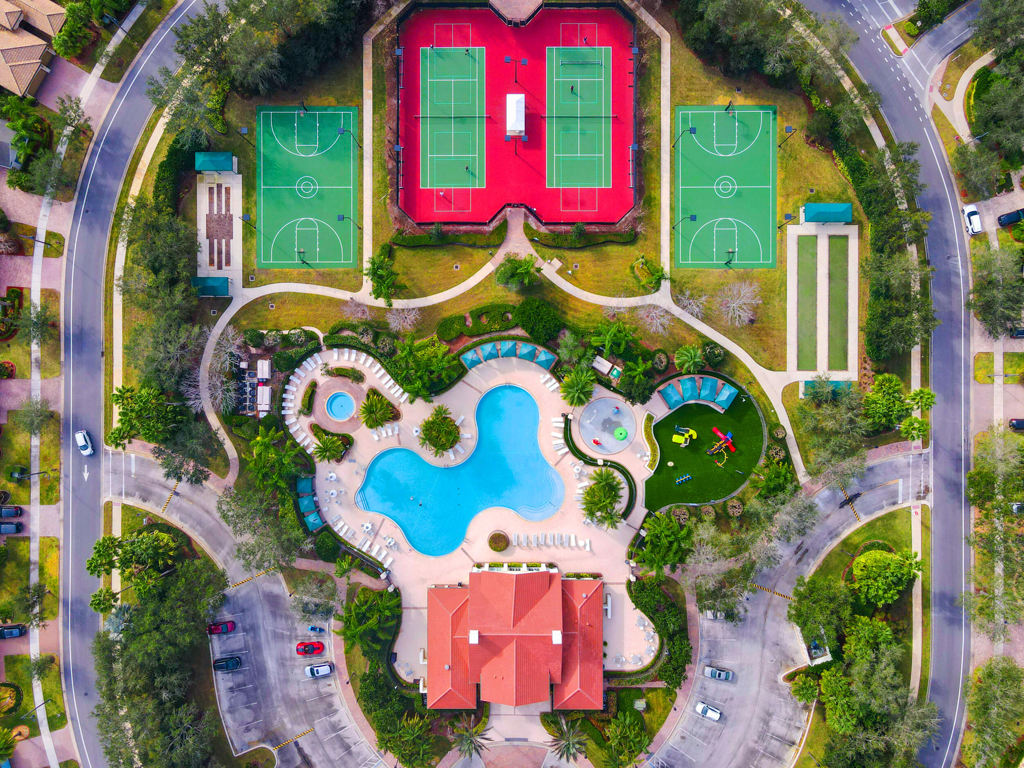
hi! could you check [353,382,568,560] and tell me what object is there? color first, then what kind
blue swimming pool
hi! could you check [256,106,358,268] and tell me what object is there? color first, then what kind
green basketball court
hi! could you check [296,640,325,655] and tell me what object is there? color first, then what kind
red car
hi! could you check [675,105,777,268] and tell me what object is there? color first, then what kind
green basketball court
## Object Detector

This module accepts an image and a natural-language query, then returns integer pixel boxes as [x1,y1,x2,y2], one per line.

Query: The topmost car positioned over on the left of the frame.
[77,430,96,456]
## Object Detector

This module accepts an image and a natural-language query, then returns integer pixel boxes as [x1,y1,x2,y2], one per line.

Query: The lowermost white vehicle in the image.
[693,700,722,721]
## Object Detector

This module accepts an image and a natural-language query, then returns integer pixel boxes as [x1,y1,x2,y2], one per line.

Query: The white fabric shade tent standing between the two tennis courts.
[507,94,525,136]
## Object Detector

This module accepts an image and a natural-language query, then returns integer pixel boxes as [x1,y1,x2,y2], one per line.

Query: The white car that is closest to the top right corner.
[960,206,980,235]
